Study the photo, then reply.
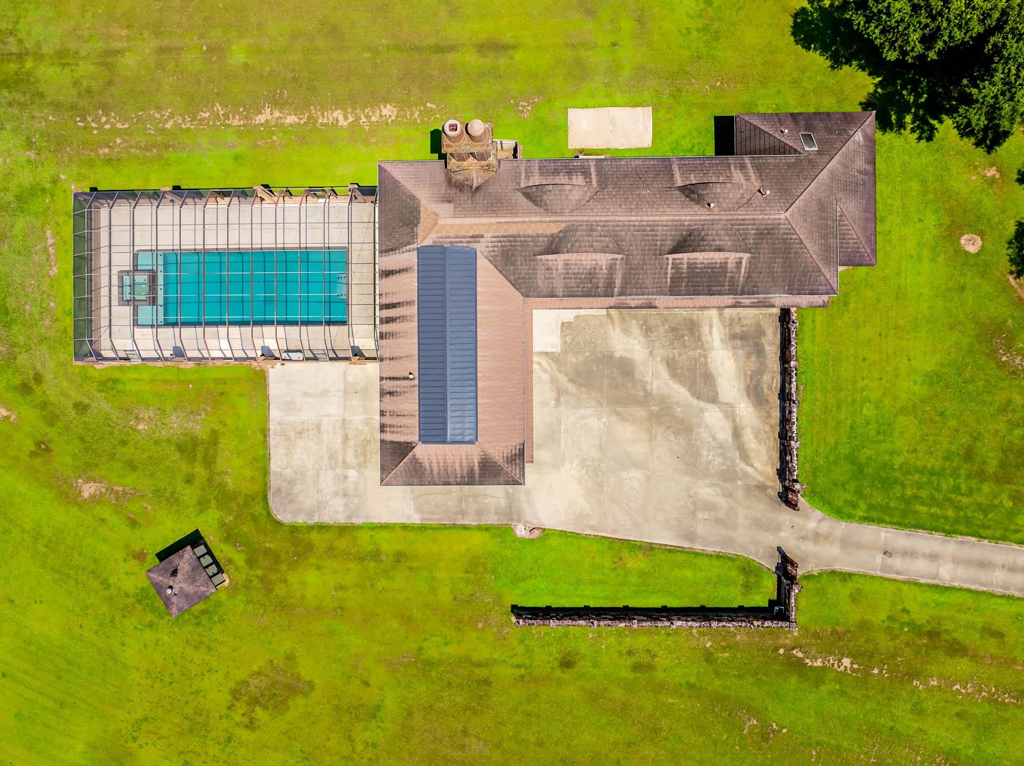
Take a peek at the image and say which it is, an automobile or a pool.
pool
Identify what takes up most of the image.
grass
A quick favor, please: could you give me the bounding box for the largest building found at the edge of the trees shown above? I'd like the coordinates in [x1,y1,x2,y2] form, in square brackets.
[377,111,877,486]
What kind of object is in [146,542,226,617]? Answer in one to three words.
shed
